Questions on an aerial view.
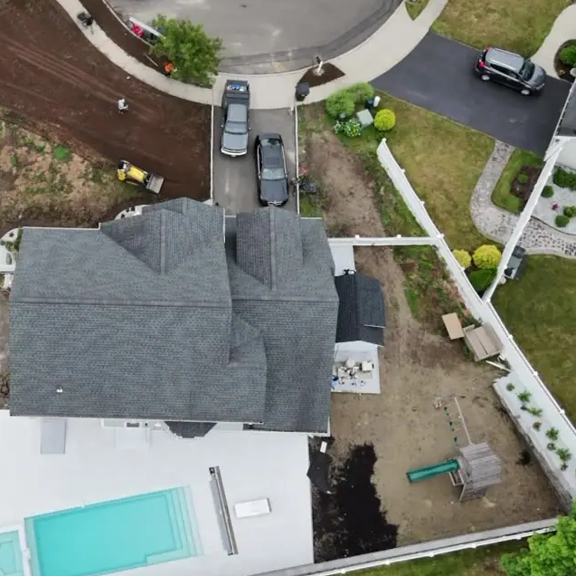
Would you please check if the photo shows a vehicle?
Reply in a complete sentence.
Yes, this view includes a vehicle.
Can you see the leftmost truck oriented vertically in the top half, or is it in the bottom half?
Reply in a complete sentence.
The leftmost truck oriented vertically is in the top half of the image.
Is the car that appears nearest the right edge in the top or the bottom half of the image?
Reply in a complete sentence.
Seen from above, the car that appears nearest the right edge lies in the top half of the view.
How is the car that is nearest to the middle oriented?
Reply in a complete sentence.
The car that is nearest to the middle runs up and down in the image.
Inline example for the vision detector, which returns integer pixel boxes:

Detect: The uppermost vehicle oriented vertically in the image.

[216,80,253,157]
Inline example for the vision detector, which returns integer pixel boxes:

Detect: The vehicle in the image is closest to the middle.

[253,139,289,205]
